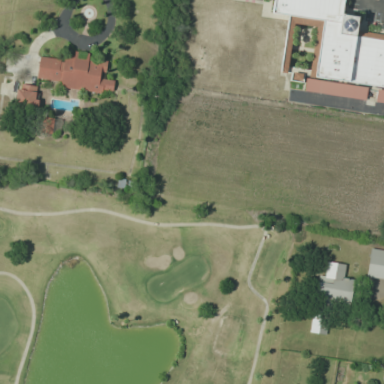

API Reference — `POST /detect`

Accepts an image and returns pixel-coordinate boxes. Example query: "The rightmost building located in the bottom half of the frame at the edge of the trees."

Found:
[368,250,384,279]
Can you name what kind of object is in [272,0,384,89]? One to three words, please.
building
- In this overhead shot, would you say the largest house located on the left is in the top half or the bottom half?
top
